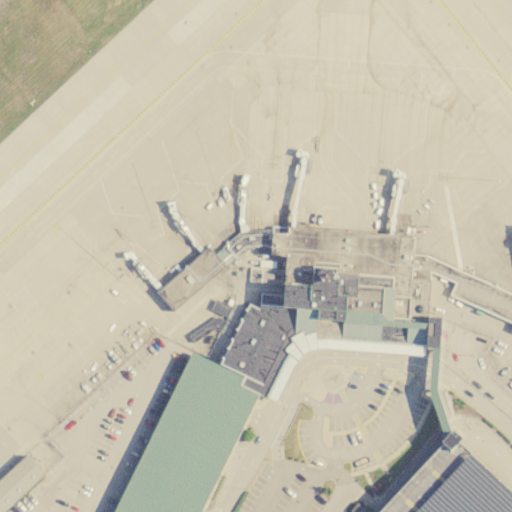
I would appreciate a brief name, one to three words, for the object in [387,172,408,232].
jet bridge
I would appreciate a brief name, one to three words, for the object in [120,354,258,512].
building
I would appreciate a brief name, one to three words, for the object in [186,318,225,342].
shed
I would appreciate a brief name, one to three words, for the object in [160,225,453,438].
building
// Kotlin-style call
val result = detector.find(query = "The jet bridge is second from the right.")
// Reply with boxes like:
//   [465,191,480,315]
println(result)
[290,150,310,227]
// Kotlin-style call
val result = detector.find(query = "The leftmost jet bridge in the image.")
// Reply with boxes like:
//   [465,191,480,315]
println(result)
[126,253,163,290]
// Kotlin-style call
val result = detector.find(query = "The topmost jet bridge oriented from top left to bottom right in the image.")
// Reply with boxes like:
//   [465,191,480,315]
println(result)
[164,202,206,252]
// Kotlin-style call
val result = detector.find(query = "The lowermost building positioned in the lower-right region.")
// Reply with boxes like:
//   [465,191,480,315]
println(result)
[376,446,512,512]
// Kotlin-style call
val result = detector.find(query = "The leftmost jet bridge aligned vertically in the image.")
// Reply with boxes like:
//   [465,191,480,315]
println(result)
[238,172,250,232]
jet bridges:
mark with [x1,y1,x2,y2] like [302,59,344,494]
[290,150,310,227]
[126,253,163,290]
[238,172,250,232]
[387,172,408,232]
[164,202,206,252]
